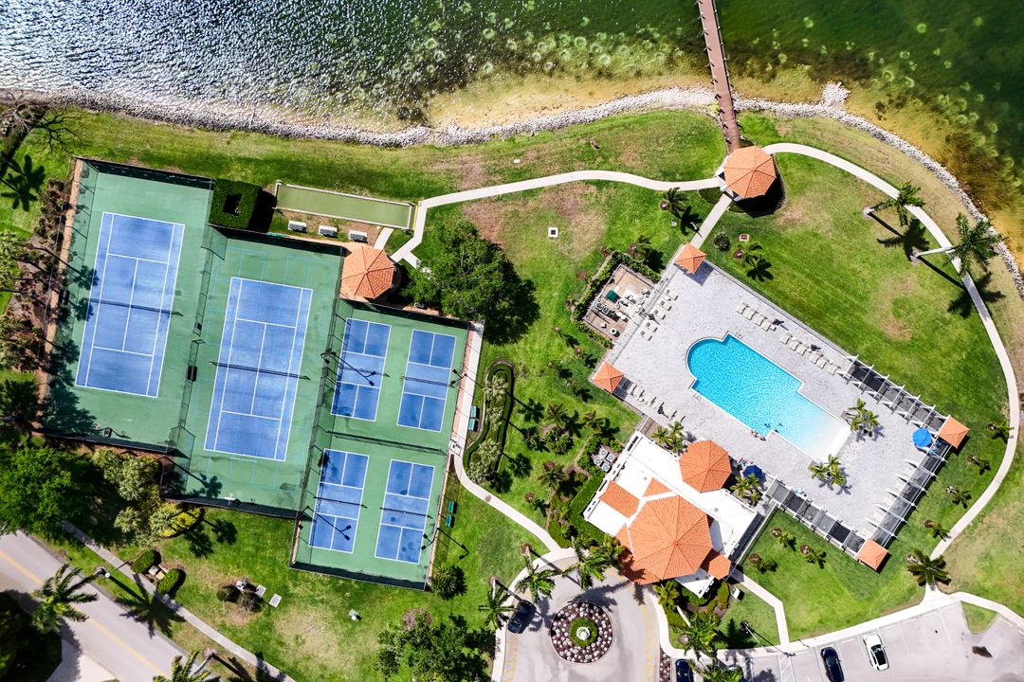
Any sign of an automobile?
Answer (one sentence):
Yes, the picture does show an automobile.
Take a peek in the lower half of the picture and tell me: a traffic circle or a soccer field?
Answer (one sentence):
Looking in the lower half of the picture, you will find a traffic circle.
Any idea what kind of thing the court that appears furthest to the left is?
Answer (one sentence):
In the photo, the court that appears furthest to the left shows up as a tennis court.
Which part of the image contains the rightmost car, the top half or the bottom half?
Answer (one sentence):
Seen from above, the rightmost car lies in the bottom half of the view.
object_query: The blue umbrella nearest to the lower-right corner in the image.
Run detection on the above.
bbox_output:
[909,427,929,447]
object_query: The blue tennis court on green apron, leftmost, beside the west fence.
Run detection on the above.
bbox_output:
[44,163,216,450]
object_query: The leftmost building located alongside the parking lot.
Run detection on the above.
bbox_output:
[582,426,759,611]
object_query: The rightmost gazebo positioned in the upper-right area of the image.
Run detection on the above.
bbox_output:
[716,145,777,204]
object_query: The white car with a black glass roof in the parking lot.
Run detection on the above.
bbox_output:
[865,635,890,673]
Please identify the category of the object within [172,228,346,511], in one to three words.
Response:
tennis court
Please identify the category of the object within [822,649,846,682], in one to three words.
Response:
car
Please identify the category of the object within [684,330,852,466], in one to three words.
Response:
swimming pool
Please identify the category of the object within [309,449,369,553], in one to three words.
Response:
sports court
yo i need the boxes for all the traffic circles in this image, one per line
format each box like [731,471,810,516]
[551,601,613,663]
